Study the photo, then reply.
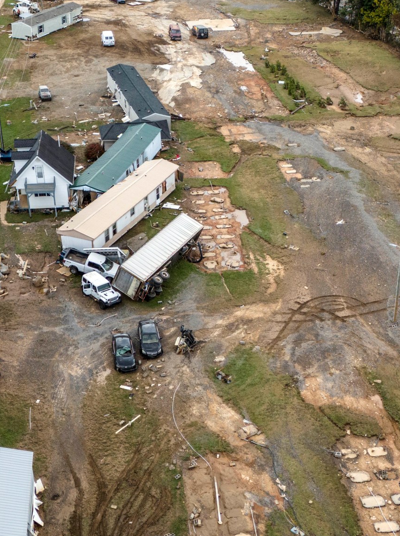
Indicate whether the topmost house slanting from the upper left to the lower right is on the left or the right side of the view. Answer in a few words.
left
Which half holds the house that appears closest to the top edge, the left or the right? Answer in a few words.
left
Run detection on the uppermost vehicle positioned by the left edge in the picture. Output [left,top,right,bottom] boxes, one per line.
[7,0,43,15]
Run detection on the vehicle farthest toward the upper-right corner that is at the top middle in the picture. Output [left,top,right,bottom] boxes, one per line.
[193,27,208,40]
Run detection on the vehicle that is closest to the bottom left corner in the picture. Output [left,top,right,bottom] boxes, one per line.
[111,337,138,373]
